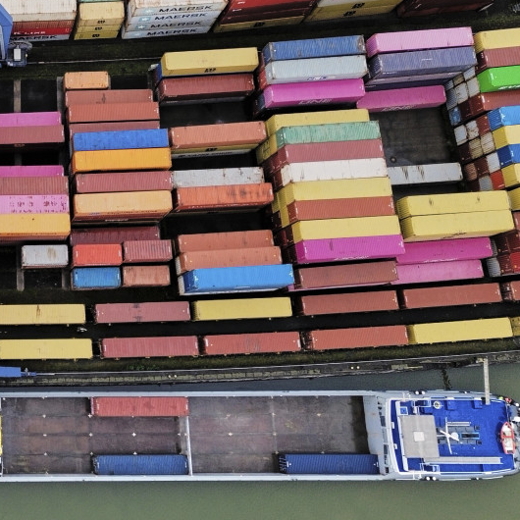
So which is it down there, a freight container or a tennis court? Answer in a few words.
freight container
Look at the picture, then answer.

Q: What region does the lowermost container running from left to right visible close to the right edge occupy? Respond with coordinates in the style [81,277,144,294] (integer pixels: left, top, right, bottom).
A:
[407,318,511,345]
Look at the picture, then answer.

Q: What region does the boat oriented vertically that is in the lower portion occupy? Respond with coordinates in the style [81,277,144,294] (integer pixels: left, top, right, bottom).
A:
[500,420,519,456]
